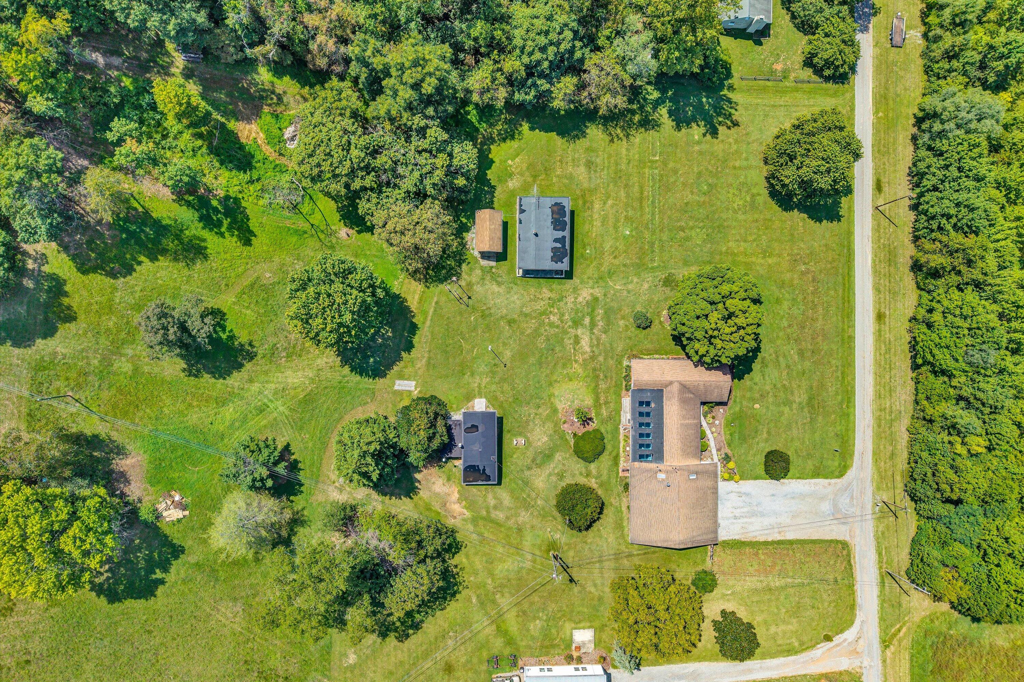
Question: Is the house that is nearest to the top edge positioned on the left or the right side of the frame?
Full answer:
The house that is nearest to the top edge appears in the right half of the scene.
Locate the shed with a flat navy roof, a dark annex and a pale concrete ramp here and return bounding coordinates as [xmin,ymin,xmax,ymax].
[444,399,497,484]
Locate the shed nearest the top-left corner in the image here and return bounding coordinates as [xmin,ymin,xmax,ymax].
[475,209,503,266]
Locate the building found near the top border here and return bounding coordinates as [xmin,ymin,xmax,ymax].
[719,0,772,40]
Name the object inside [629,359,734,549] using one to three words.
house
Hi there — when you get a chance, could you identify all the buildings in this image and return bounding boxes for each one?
[444,399,497,484]
[629,359,734,549]
[475,209,503,266]
[517,196,570,277]
[525,667,604,682]
[719,0,772,40]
